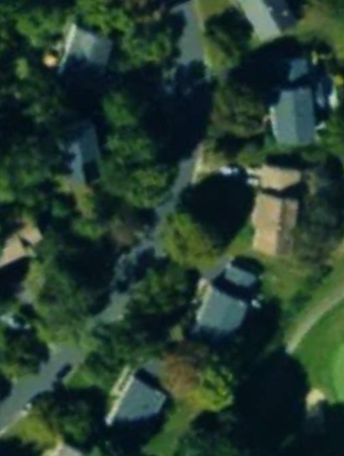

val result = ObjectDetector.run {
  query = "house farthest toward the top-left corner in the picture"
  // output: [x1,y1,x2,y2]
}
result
[62,28,113,81]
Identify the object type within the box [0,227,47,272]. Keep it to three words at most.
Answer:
house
